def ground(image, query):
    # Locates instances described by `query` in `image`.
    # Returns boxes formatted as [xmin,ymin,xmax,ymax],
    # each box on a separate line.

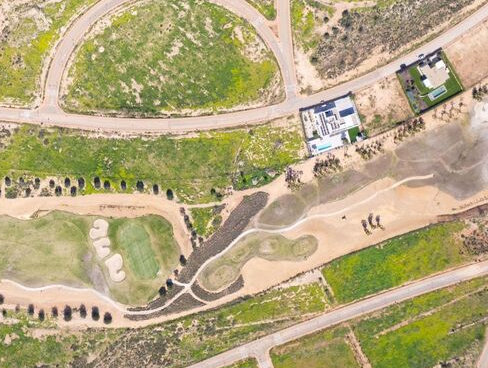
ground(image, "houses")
[415,55,450,88]
[314,103,361,137]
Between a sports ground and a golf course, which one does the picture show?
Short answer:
golf course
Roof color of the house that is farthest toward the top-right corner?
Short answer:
white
